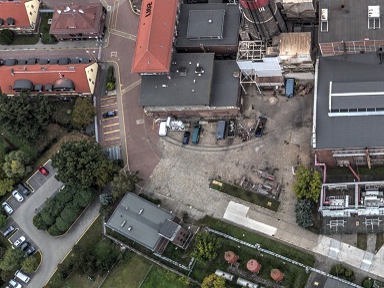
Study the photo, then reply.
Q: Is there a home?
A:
Yes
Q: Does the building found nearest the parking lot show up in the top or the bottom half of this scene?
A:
bottom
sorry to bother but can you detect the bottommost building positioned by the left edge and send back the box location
[0,58,102,99]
